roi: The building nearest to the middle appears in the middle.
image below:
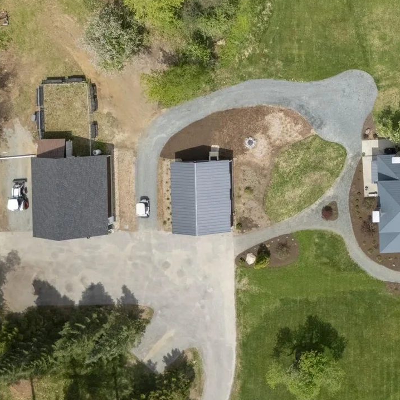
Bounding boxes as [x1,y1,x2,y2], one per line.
[170,160,235,236]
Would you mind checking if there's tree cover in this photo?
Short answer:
Yes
